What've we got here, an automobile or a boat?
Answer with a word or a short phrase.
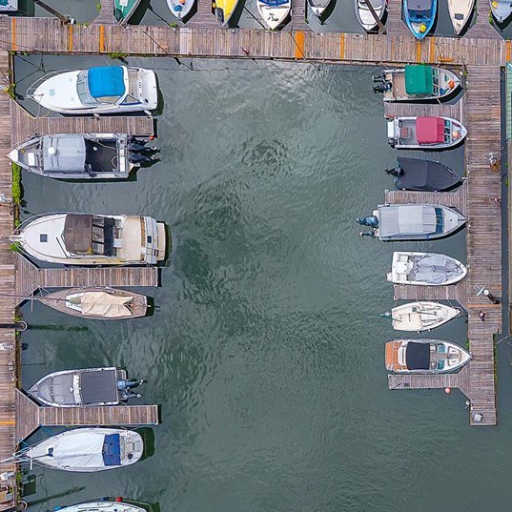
boat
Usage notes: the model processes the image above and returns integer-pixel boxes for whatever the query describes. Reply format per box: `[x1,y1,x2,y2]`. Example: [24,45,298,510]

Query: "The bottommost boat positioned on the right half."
[386,339,471,376]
